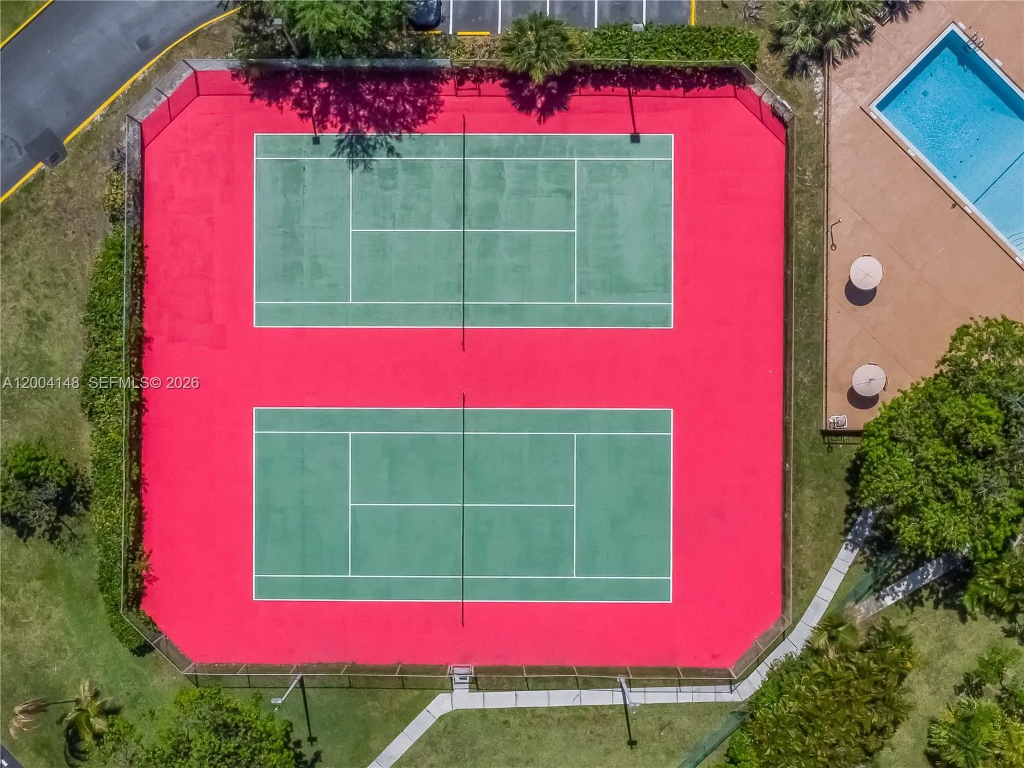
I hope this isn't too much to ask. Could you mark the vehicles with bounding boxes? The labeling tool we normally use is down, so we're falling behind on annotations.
[408,0,444,30]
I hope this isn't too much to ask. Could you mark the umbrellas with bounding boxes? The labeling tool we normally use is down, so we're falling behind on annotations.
[851,364,885,397]
[848,257,882,291]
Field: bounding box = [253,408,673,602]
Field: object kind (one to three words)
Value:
tennis court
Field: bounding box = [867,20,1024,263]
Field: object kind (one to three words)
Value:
swimming pool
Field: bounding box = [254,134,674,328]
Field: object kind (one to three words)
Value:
tennis court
